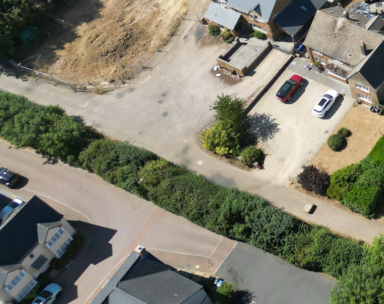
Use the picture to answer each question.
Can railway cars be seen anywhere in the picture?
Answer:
No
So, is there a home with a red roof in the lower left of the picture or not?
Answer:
No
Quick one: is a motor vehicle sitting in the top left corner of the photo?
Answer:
No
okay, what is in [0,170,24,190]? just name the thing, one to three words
car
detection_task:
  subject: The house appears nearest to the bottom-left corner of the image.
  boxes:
[0,194,78,304]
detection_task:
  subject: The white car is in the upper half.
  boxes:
[311,91,339,119]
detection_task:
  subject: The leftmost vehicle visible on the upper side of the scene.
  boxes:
[277,76,304,103]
